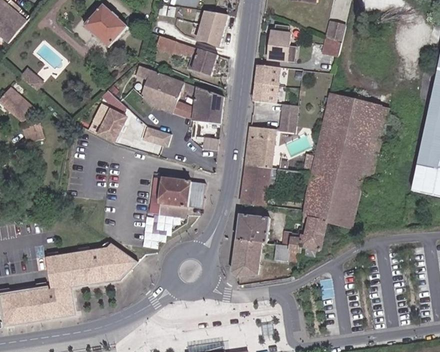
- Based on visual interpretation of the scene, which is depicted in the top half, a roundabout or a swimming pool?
swimming pool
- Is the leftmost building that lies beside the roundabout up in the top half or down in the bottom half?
bottom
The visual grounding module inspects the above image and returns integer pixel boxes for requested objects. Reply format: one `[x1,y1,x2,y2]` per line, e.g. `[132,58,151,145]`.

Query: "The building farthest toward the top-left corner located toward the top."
[0,0,28,42]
